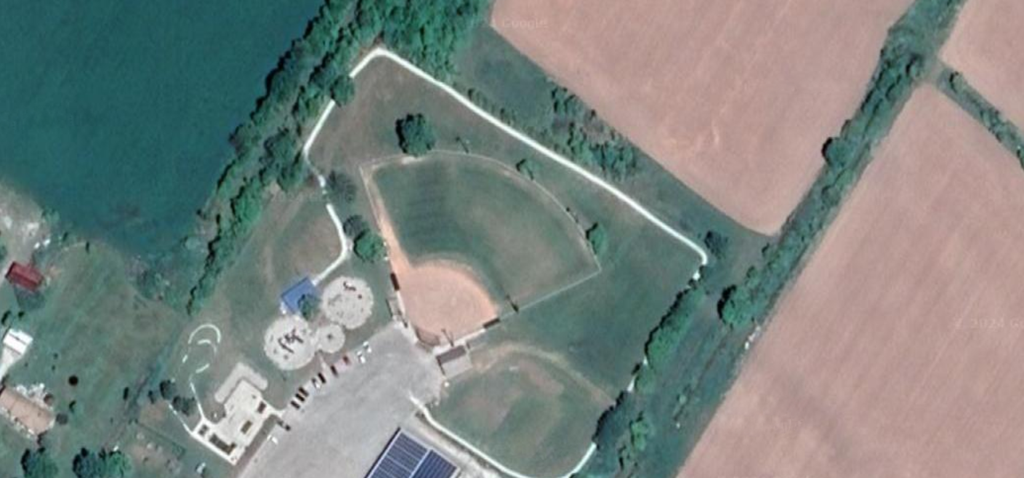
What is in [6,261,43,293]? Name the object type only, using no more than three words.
barn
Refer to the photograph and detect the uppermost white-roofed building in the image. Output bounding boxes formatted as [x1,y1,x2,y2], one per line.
[2,329,32,356]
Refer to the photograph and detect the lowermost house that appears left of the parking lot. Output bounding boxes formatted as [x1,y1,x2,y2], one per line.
[0,385,55,434]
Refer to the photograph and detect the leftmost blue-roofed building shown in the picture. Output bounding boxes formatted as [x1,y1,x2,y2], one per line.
[281,277,320,315]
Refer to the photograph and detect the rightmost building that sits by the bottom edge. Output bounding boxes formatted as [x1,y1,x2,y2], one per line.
[369,431,460,478]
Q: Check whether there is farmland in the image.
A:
Yes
